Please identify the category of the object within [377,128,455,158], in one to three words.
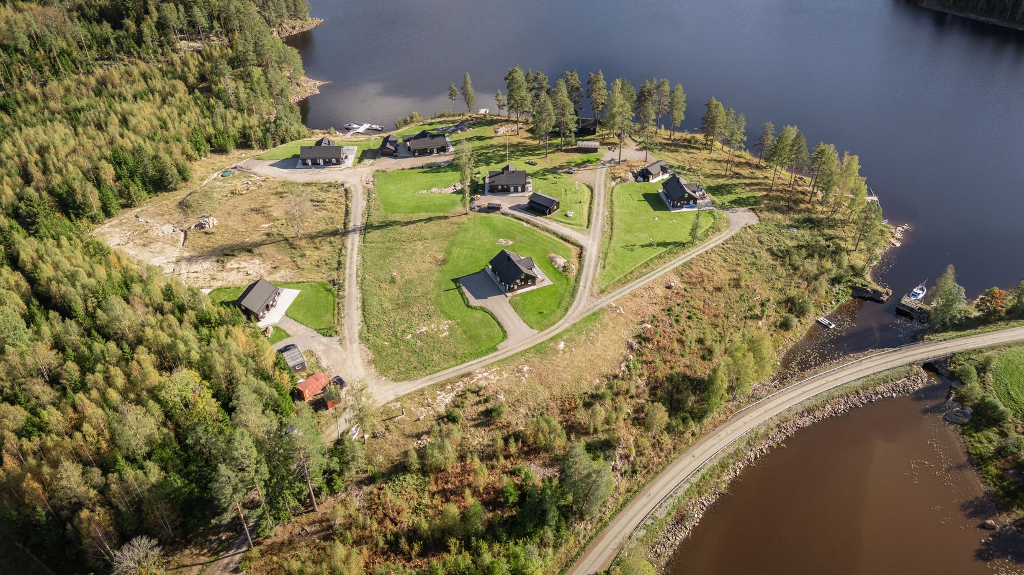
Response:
house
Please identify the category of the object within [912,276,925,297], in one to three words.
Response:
boat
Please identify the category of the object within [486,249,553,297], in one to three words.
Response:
house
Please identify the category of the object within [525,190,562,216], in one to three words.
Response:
building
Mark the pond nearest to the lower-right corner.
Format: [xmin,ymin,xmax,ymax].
[663,363,1024,575]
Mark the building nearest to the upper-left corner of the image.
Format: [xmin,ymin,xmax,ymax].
[296,136,357,168]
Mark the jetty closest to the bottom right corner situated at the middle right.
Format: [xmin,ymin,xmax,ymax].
[898,290,934,322]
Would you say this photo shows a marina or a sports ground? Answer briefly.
marina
